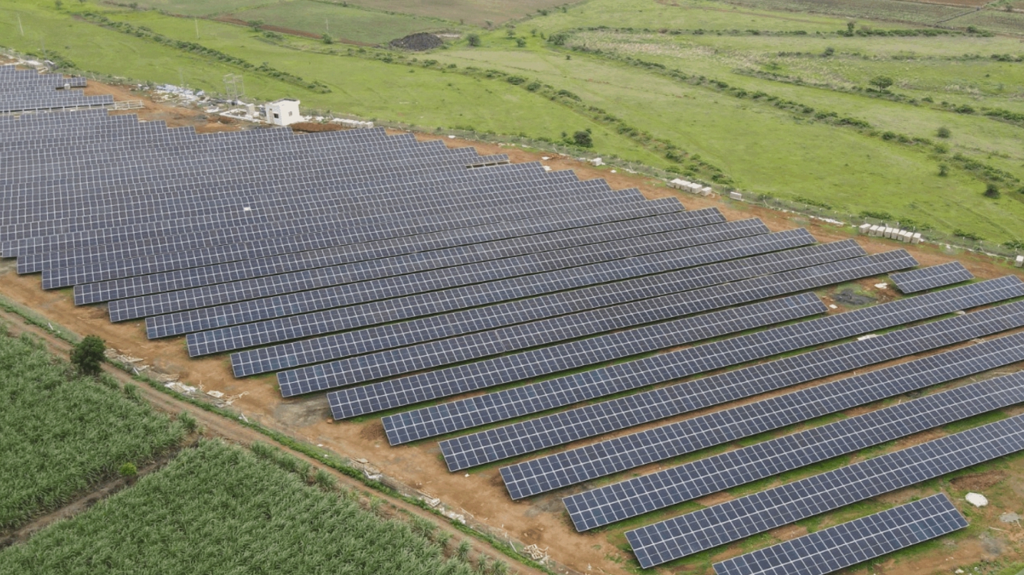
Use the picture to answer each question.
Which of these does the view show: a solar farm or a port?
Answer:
solar farm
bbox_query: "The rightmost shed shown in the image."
[264,99,298,125]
